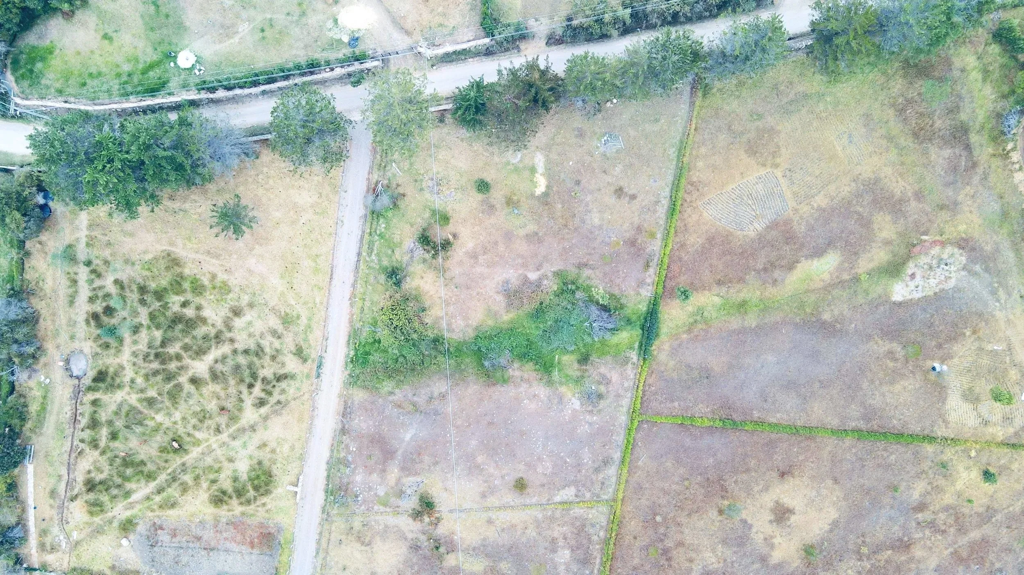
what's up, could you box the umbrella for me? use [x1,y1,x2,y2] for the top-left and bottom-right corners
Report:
[178,50,197,70]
